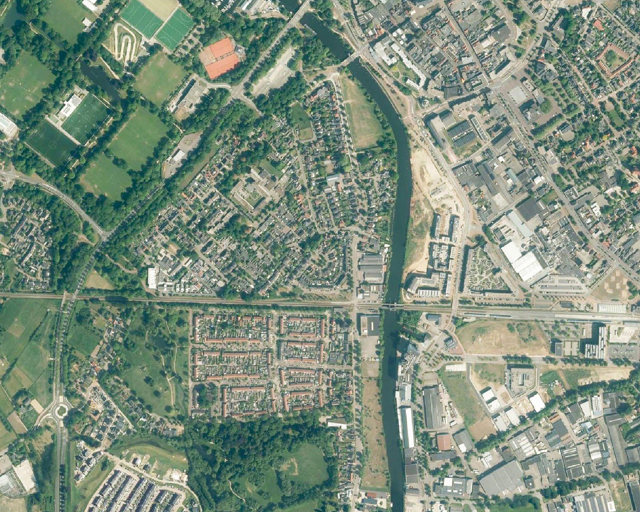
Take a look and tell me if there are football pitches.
Yes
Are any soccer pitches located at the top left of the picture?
Yes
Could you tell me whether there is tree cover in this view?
Yes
